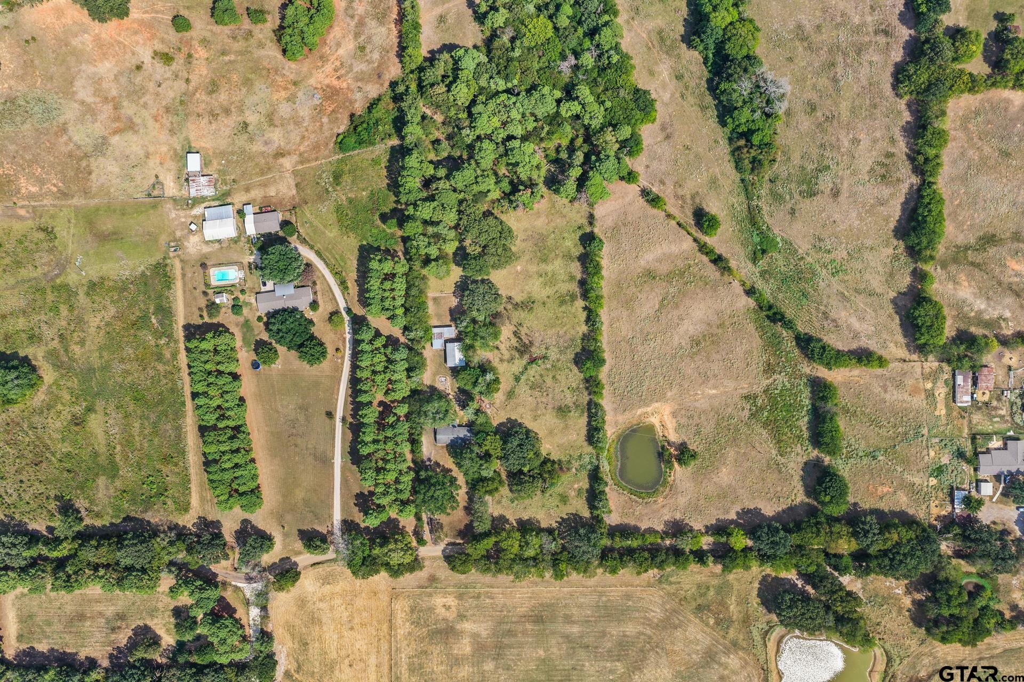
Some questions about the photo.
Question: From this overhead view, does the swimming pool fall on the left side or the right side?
left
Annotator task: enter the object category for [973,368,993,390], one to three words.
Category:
barn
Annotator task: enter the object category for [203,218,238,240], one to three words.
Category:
building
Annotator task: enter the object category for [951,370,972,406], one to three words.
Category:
shed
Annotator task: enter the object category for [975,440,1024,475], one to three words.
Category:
house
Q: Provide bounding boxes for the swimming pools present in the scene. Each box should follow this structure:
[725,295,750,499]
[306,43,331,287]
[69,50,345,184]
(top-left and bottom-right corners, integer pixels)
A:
[209,265,240,286]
